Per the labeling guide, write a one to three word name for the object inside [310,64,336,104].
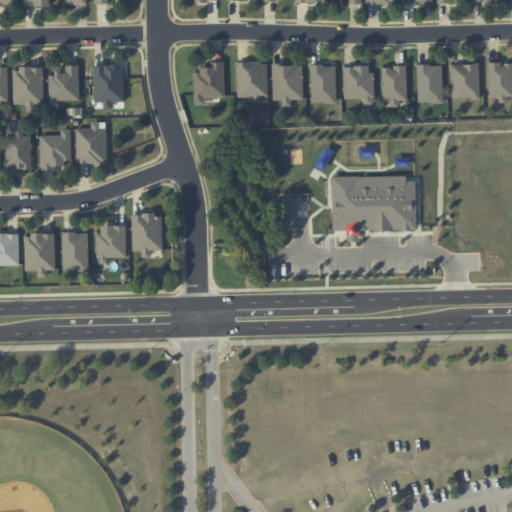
house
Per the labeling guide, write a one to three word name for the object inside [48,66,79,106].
house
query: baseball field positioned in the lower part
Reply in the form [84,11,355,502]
[0,416,124,512]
